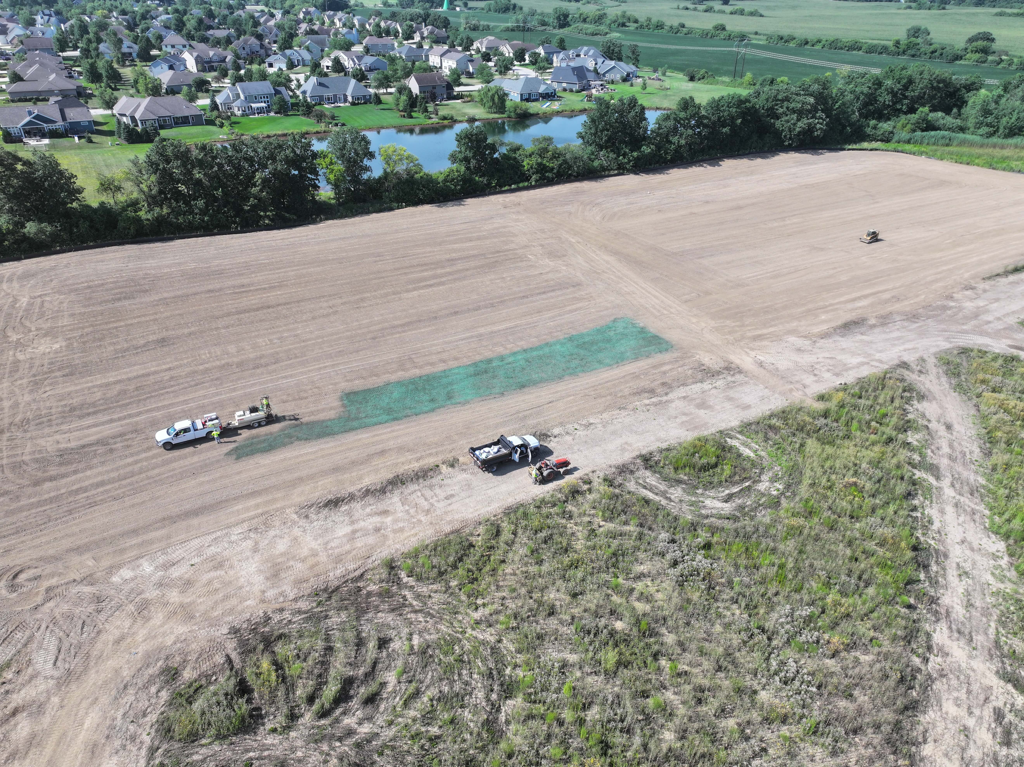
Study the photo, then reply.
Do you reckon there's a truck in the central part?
Yes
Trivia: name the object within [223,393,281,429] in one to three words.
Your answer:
trailer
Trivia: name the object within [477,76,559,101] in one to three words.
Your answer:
house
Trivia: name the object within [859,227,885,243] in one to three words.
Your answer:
work vehicle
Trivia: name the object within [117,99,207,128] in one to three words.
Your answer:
house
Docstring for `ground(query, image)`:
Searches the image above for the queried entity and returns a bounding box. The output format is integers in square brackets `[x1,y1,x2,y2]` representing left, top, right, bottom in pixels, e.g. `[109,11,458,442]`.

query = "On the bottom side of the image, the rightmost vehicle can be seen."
[535,458,569,483]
